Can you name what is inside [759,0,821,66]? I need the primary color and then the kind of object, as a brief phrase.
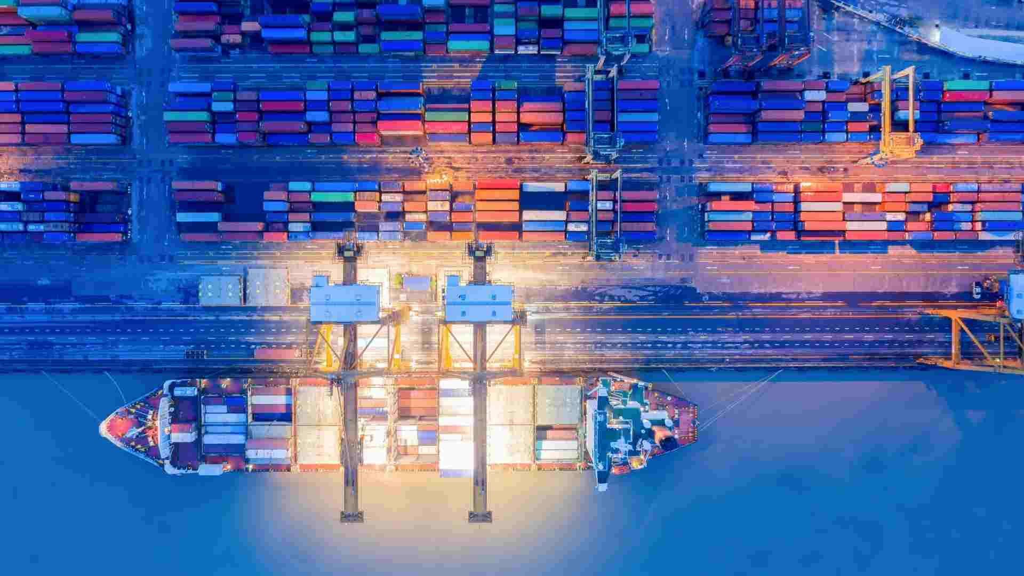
blue container crane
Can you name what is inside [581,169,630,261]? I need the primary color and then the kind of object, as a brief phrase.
blue container crane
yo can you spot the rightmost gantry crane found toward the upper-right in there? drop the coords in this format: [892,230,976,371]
[855,65,924,165]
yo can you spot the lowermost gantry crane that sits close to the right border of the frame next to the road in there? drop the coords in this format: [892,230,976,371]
[930,273,1024,375]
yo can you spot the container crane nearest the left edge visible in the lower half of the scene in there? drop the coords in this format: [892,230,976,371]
[307,233,415,524]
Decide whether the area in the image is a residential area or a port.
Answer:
port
